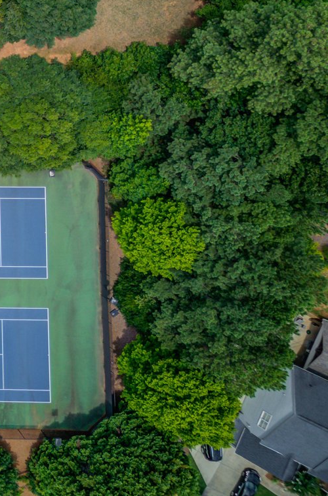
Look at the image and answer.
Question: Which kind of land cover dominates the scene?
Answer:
trees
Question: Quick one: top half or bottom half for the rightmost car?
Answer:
bottom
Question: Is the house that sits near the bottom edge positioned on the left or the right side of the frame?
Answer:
right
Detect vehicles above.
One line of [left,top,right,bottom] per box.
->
[227,464,258,496]
[199,427,224,462]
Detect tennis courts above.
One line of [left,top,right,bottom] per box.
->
[0,307,50,403]
[0,187,47,279]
